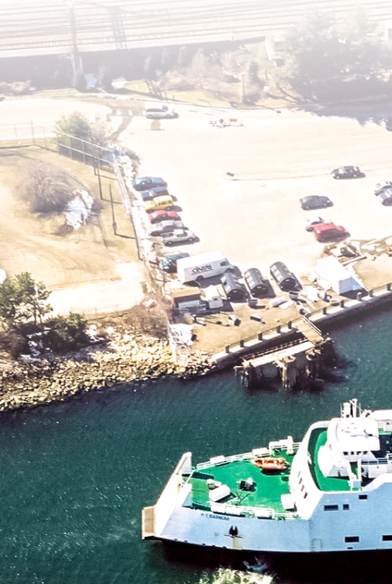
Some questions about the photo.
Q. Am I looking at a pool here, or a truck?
truck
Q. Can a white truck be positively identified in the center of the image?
Yes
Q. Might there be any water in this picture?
Yes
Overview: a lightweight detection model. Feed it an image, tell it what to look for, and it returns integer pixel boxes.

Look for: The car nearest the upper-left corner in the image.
[143,104,177,120]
